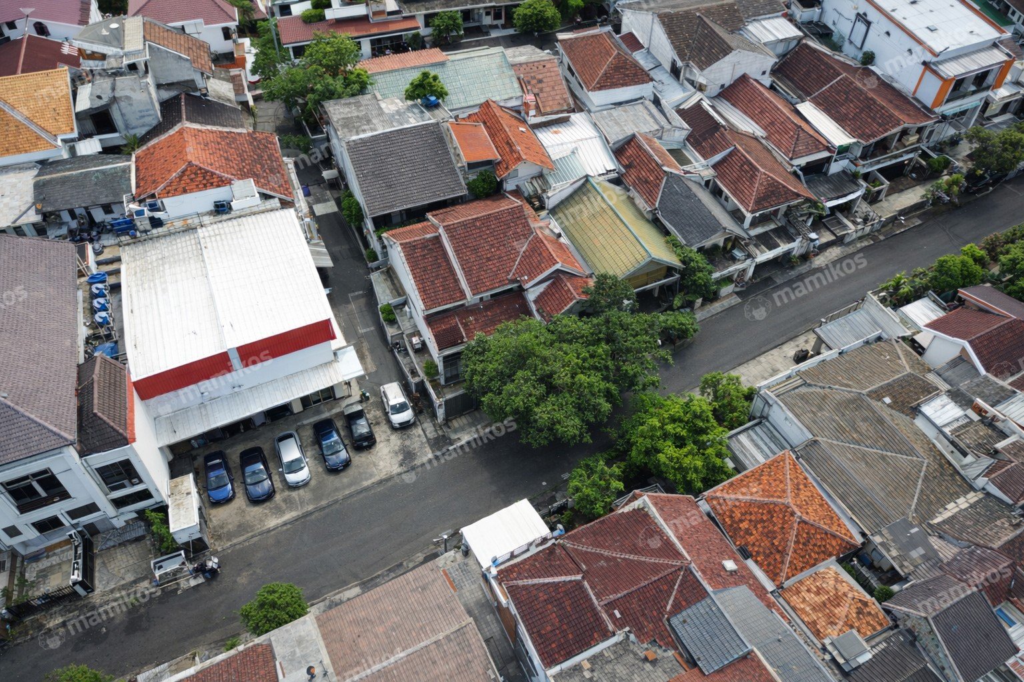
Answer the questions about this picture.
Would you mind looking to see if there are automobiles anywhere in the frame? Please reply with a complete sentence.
Yes, the frame does contain an automobile.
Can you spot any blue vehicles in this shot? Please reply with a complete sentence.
Yes, the image includes a blue vehicle.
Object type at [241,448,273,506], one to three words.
car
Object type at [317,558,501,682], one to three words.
house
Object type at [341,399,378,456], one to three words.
car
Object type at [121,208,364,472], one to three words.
building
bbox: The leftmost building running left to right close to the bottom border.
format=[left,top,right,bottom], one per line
[158,610,336,682]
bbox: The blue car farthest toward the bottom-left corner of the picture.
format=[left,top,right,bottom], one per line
[202,452,234,505]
